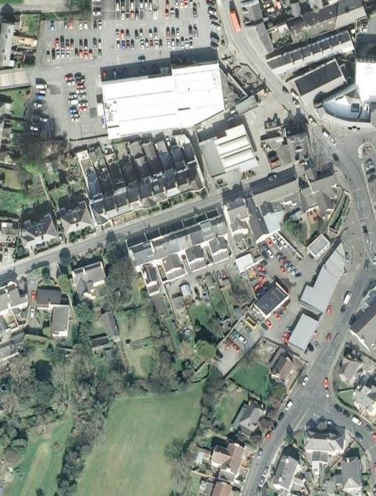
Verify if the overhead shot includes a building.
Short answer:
Yes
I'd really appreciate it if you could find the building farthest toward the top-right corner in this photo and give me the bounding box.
[327,0,368,36]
